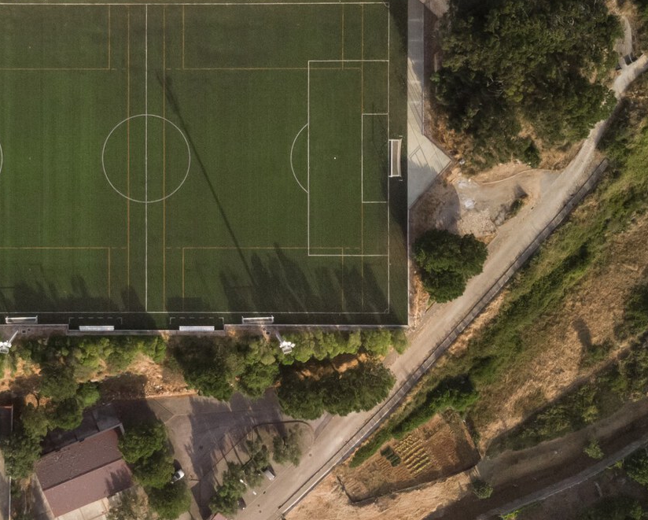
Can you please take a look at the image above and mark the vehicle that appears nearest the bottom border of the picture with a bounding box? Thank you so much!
[234,497,249,515]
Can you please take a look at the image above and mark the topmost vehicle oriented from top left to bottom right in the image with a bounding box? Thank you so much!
[258,465,280,485]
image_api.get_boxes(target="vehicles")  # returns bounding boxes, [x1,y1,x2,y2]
[234,497,249,515]
[172,468,187,484]
[258,465,280,485]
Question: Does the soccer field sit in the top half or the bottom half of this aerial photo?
top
